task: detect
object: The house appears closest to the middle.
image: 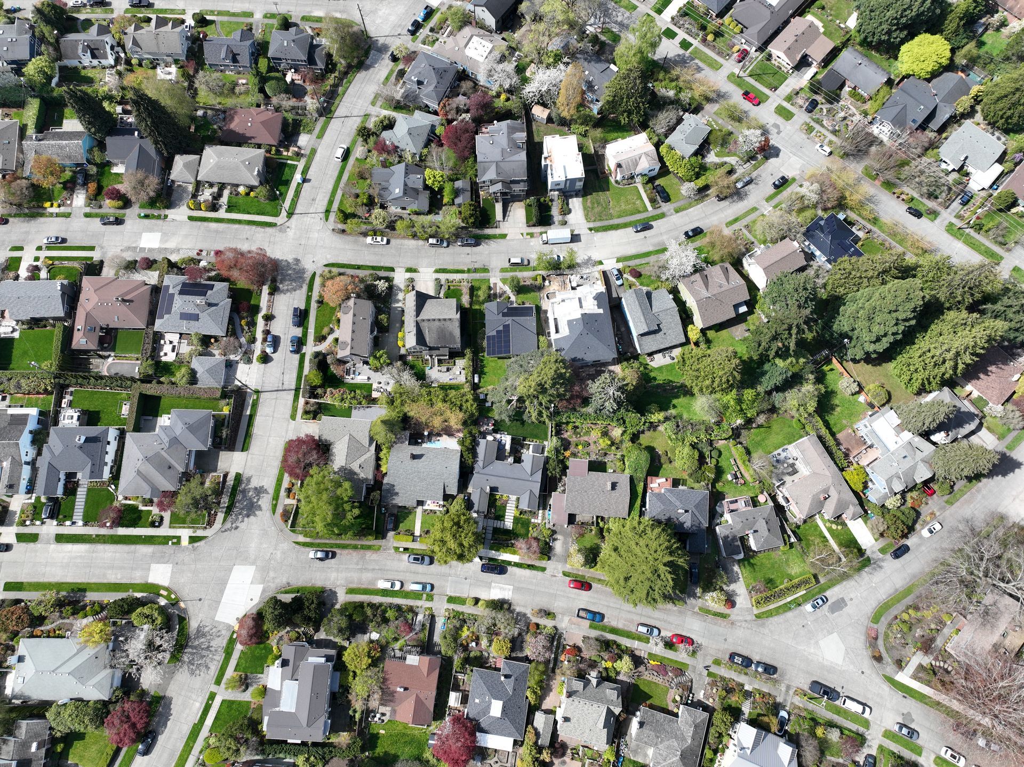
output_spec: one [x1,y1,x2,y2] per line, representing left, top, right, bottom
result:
[485,302,537,358]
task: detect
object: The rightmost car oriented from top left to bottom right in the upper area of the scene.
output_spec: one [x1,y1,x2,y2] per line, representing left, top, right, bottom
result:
[902,204,926,221]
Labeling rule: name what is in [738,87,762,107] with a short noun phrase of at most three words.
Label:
vehicle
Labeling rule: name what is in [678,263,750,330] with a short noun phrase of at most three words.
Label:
house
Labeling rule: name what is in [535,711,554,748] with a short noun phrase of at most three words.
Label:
building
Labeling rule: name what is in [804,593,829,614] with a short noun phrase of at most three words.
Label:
car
